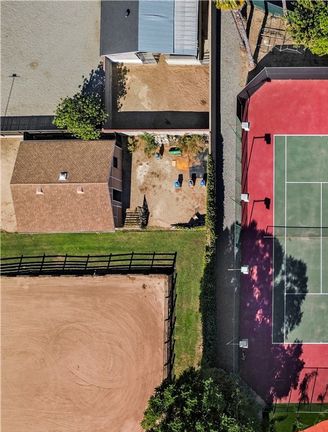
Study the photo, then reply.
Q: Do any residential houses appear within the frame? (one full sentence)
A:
Yes, a residential house is visible in the scene.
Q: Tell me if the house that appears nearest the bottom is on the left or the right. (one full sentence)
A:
It is on the left.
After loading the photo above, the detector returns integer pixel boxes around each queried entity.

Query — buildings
[14,141,126,231]
[106,0,206,65]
